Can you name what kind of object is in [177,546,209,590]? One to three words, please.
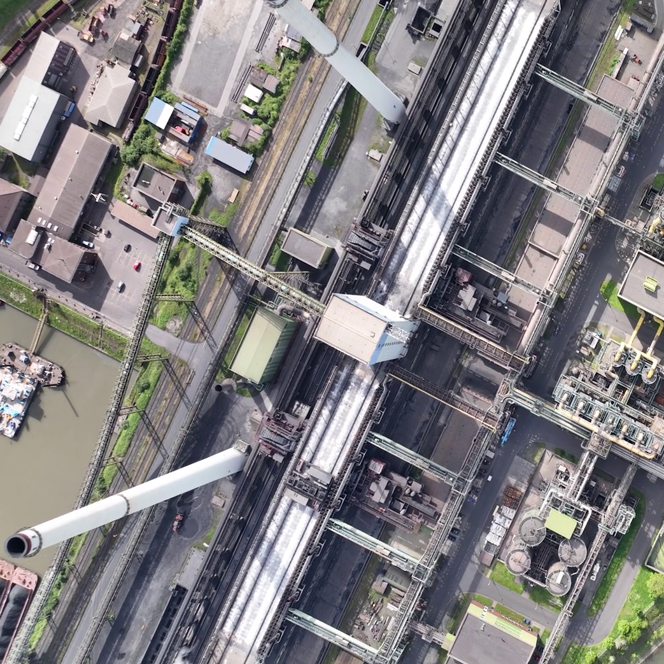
house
